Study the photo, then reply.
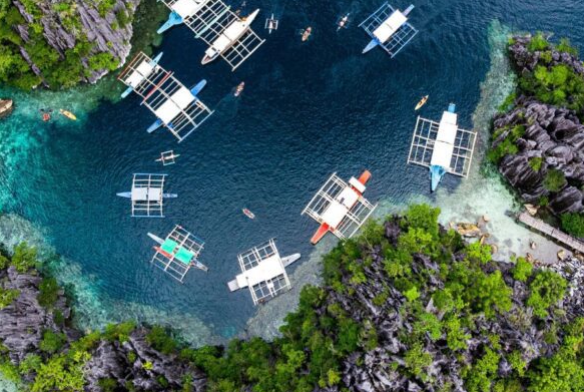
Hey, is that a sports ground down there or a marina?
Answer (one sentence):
This looks like a marina.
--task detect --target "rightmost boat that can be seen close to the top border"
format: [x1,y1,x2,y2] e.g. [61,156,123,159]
[358,1,419,59]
